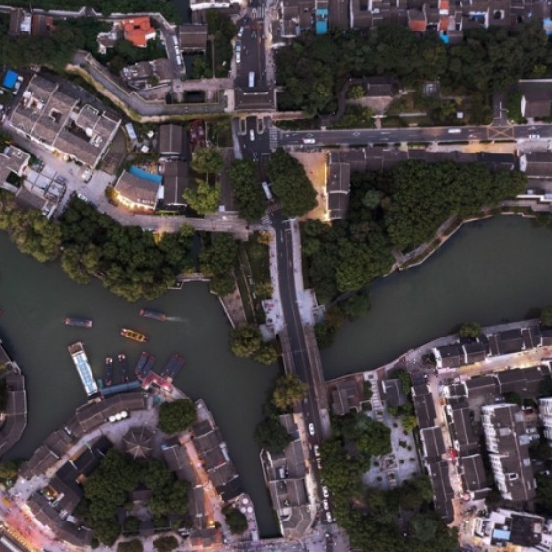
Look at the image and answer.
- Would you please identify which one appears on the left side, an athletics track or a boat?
boat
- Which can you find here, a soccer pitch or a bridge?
bridge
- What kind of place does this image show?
residential area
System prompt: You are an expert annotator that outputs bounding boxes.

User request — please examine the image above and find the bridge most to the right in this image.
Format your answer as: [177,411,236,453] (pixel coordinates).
[278,328,327,395]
